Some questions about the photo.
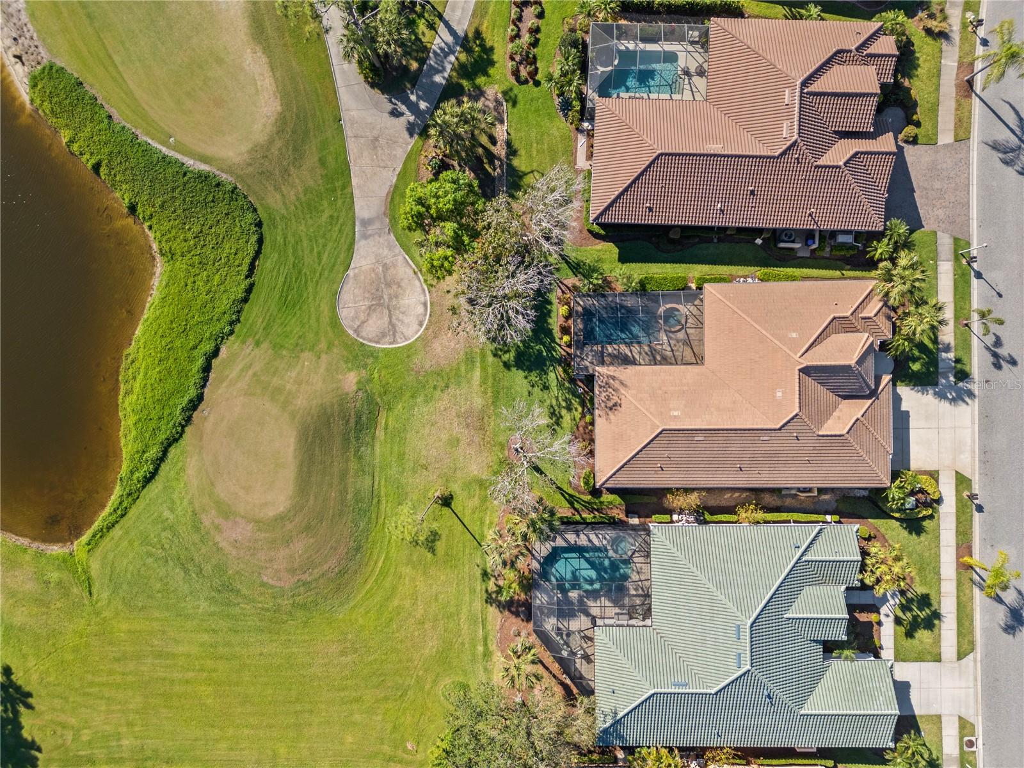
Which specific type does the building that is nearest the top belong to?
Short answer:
house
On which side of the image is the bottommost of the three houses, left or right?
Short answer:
right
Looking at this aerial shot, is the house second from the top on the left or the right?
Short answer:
right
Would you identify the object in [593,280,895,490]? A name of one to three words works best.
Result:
house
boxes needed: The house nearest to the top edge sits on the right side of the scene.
[589,15,899,232]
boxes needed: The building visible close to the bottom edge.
[592,523,903,748]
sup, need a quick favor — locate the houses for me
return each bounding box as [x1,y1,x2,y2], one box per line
[592,523,903,748]
[589,15,899,232]
[593,280,895,490]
